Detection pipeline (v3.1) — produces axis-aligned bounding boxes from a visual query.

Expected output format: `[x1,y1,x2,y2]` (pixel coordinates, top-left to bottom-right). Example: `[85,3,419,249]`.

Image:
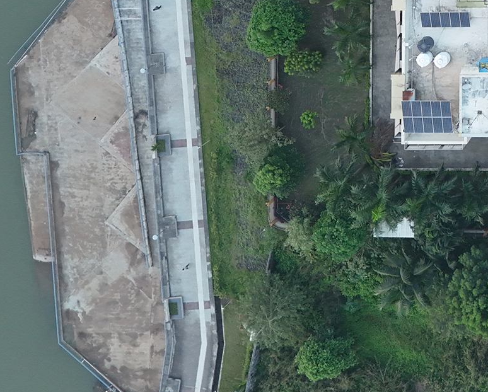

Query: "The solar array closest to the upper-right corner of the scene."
[421,13,469,31]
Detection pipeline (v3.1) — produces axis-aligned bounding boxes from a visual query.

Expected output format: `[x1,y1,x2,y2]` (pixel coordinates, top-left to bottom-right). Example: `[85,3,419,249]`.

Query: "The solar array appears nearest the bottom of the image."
[402,102,451,137]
